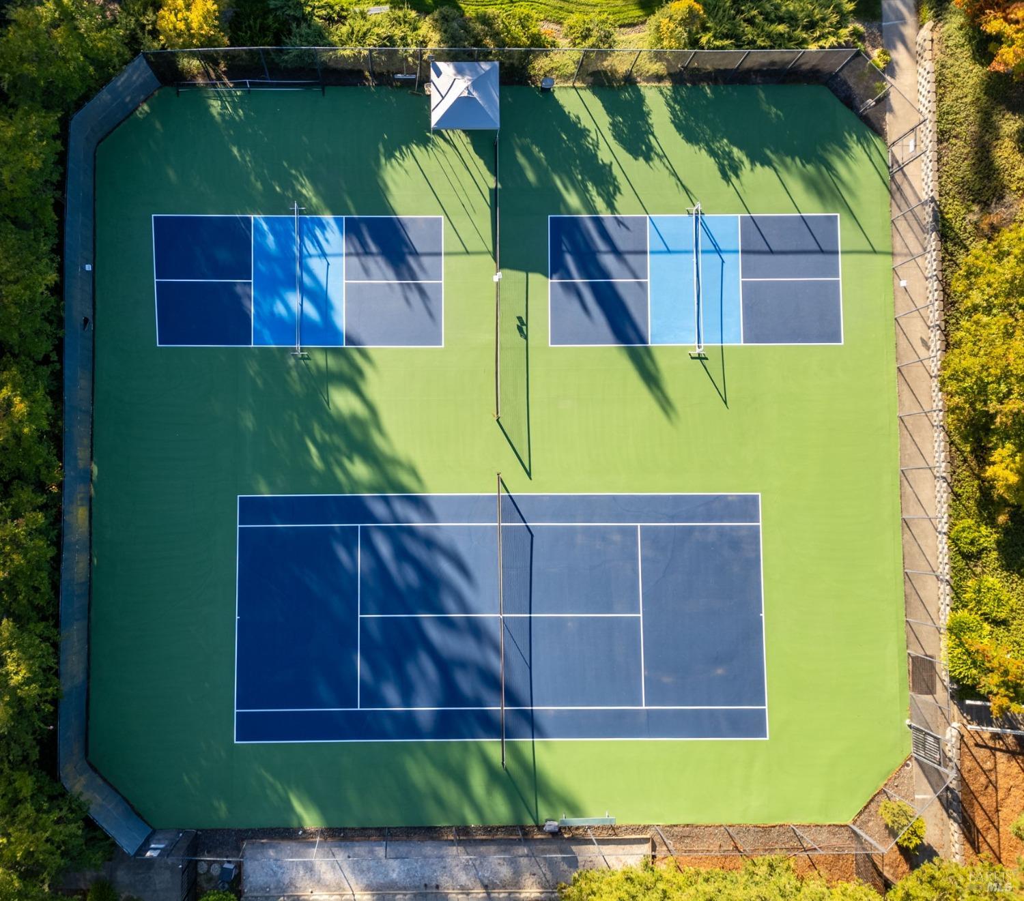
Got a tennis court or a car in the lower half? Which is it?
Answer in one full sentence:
The feature located in the lower half is a tennis court.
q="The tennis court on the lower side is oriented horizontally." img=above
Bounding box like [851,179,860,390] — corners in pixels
[236,493,768,742]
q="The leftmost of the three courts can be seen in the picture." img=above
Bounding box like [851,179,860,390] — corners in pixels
[152,215,444,347]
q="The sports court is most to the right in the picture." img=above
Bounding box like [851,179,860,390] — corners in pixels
[549,214,843,346]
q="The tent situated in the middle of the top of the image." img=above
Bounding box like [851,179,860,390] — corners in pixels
[429,61,500,147]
